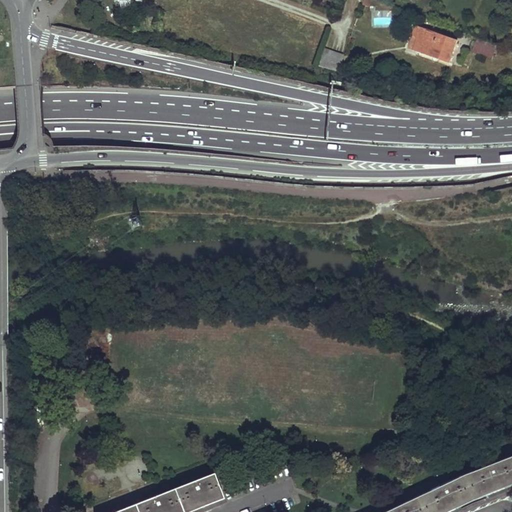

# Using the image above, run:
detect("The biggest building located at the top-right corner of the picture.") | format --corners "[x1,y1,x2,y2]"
[406,28,456,66]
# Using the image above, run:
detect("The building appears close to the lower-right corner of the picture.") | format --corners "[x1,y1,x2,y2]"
[386,456,512,512]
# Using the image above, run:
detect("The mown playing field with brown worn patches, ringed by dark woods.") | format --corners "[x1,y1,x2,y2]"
[109,322,404,442]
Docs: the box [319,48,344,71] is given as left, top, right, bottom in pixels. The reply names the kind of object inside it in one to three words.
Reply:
shed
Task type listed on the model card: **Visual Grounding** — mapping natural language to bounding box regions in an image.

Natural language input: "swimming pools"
[371,10,392,28]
